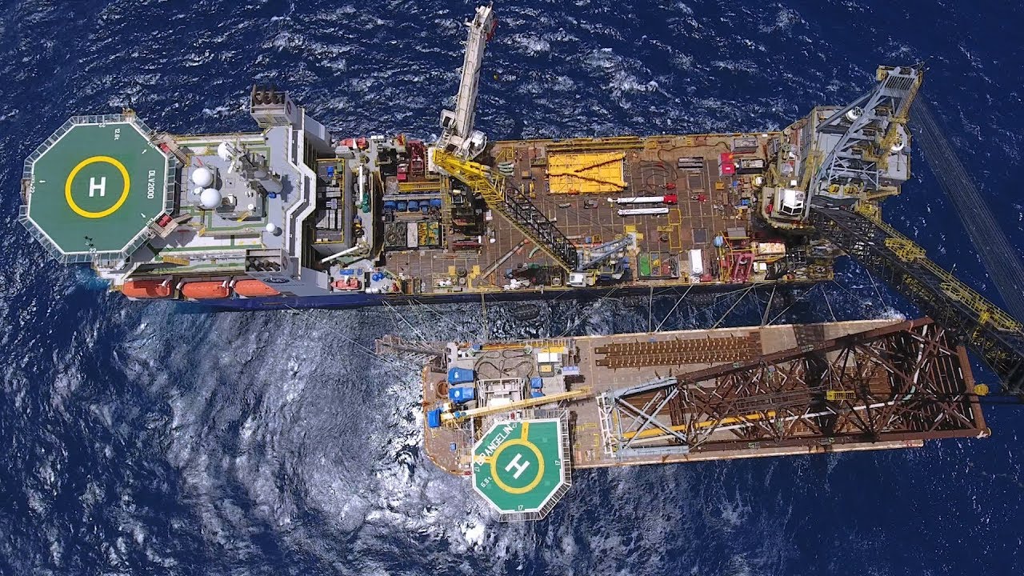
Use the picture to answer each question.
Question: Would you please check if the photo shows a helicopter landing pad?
Yes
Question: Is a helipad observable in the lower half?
Yes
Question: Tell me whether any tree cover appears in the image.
No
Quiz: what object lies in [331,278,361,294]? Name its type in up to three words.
boat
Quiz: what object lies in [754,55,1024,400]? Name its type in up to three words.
crane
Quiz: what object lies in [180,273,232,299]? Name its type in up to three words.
boat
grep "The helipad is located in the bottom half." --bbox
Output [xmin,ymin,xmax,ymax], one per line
[462,400,570,520]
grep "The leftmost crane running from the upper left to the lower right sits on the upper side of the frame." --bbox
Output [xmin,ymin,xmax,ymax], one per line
[436,148,637,285]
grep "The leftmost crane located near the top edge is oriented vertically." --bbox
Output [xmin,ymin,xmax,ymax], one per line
[426,6,494,184]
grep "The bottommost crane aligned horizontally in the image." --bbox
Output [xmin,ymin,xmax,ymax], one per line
[437,386,594,438]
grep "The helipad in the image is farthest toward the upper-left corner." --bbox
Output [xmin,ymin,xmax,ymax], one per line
[18,108,183,263]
